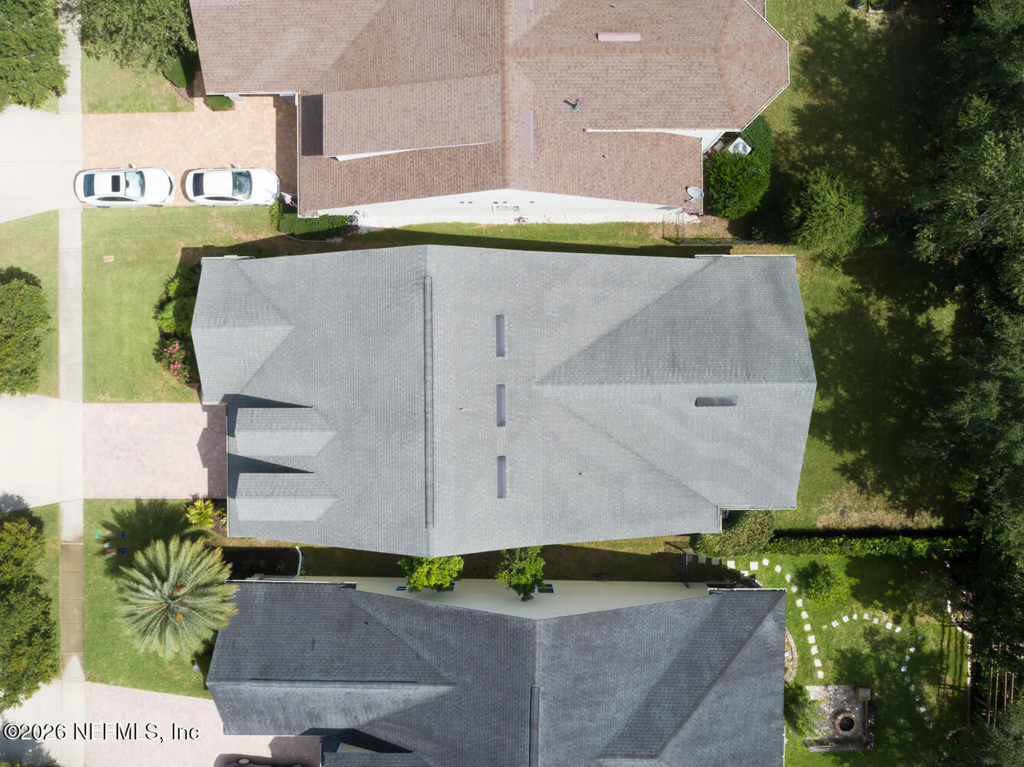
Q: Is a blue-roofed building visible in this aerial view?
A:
No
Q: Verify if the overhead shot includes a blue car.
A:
No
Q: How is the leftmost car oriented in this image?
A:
horizontally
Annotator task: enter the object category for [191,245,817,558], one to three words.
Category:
house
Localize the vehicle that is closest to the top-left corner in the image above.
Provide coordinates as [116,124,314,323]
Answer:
[76,167,177,208]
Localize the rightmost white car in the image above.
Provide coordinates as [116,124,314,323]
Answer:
[185,167,281,208]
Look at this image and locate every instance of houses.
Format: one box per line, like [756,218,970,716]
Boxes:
[207,574,789,767]
[189,0,792,221]
[191,245,817,558]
